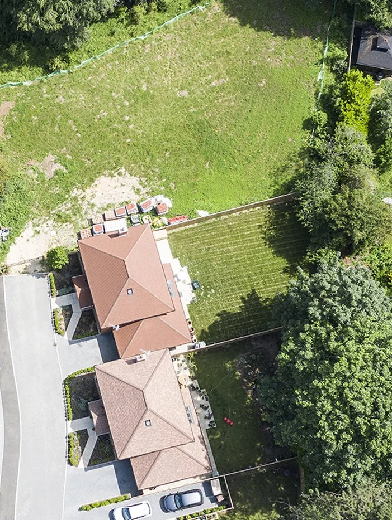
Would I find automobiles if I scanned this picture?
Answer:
Yes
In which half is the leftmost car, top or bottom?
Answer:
bottom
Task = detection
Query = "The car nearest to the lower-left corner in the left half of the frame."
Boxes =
[111,499,153,520]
